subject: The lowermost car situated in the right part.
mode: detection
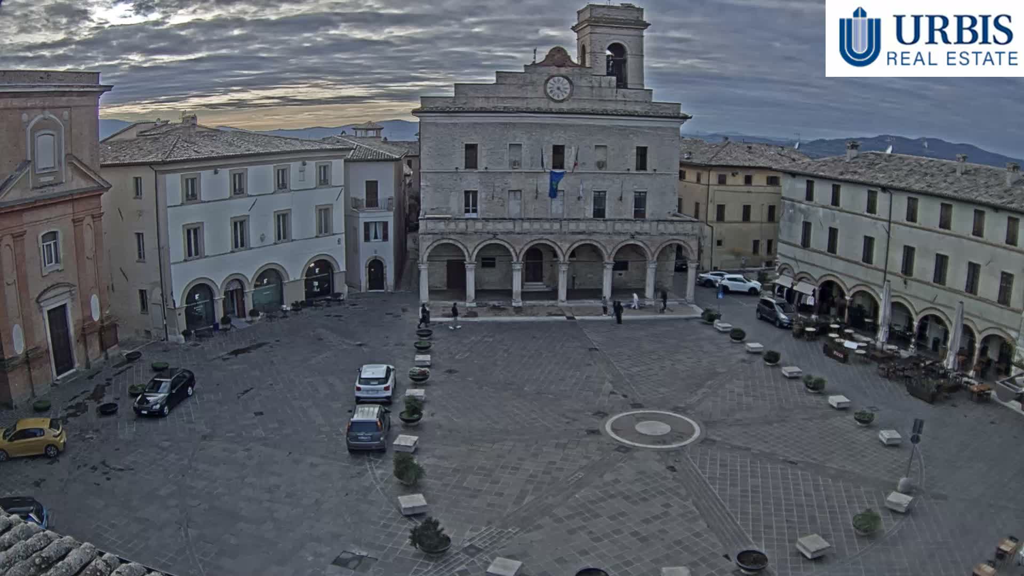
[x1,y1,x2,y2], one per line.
[755,294,805,327]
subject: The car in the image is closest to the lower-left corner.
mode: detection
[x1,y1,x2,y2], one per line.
[0,485,44,527]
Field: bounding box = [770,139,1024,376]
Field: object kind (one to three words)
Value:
building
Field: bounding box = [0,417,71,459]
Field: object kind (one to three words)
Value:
car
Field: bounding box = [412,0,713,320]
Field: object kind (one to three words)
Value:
building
